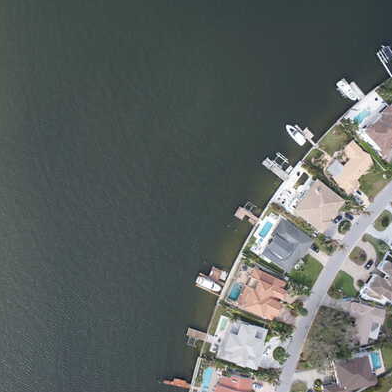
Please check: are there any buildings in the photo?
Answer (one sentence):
Yes, there's a building down there.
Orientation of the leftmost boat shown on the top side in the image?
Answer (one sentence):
In this picture, the leftmost boat shown on the top side lies diagonally.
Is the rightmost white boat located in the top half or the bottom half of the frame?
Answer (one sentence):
The rightmost white boat is in the top half of the image.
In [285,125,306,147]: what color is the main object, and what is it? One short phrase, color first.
white boat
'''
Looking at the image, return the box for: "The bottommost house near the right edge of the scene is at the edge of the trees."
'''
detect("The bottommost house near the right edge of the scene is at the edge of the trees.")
[322,353,375,392]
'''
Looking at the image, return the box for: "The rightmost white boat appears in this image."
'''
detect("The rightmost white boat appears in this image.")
[334,80,359,100]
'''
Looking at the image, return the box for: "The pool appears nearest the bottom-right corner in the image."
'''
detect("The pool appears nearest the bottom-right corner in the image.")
[369,349,385,373]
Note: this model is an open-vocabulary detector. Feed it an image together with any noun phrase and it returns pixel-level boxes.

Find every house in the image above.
[322,353,375,392]
[293,181,345,232]
[360,105,392,159]
[324,140,372,195]
[362,254,392,301]
[257,218,314,271]
[348,300,386,345]
[211,371,253,392]
[241,266,289,319]
[218,322,265,368]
